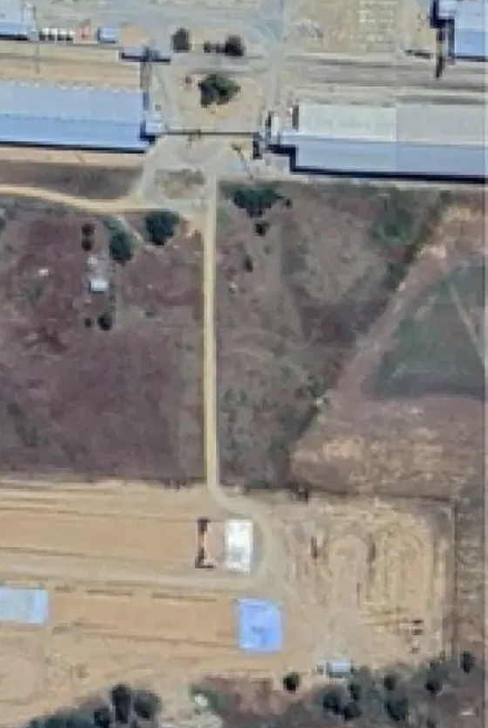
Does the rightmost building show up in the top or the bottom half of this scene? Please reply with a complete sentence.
You can find the rightmost building in the top half.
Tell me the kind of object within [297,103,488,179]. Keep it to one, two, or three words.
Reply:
building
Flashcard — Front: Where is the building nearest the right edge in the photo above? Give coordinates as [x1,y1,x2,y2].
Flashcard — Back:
[455,0,488,57]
